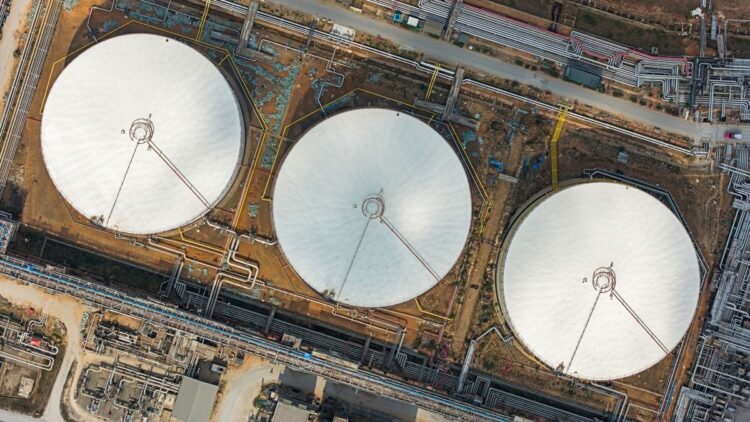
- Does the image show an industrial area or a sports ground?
industrial area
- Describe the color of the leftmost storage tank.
white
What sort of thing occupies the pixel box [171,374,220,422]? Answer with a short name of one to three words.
building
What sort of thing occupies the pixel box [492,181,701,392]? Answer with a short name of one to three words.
storage tank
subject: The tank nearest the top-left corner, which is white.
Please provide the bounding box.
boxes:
[40,31,255,238]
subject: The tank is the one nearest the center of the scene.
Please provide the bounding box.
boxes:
[271,107,473,313]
